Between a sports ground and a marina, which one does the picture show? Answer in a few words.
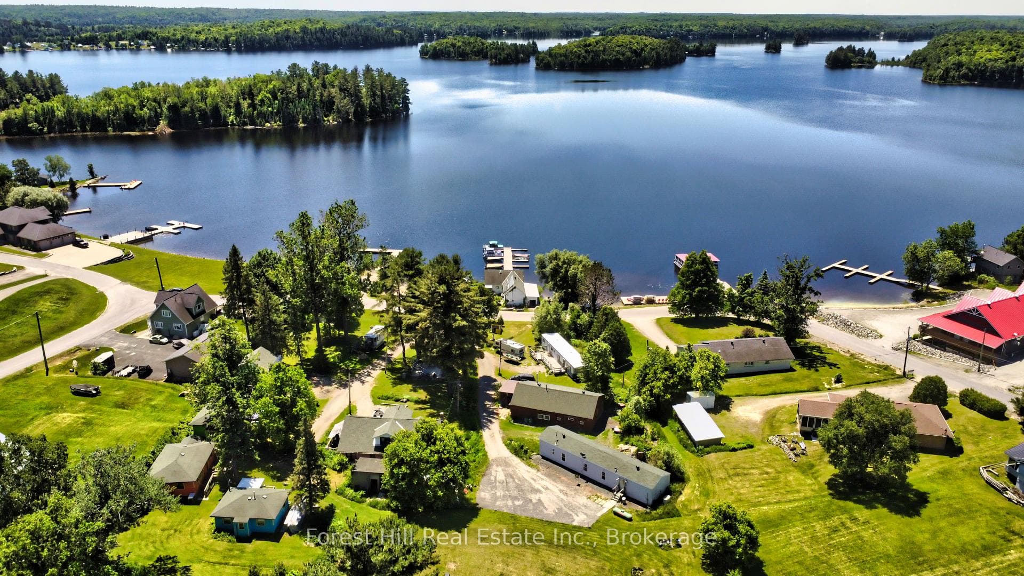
marina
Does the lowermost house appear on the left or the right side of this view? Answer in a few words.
left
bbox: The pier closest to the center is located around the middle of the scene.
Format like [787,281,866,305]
[486,248,528,270]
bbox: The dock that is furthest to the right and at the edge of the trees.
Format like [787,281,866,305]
[818,259,910,285]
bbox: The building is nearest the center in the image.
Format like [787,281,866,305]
[485,266,540,305]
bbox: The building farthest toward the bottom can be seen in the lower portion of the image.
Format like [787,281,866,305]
[211,478,291,543]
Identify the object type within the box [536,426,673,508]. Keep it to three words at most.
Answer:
house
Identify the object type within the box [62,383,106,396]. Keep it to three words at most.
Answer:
boat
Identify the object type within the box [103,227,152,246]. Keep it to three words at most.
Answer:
pier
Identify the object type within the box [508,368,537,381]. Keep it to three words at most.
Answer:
vehicle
